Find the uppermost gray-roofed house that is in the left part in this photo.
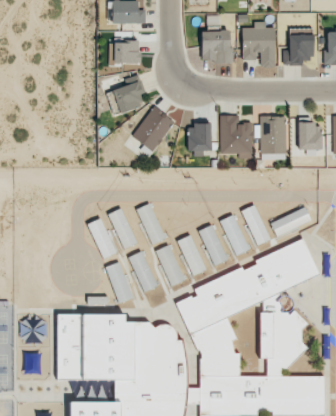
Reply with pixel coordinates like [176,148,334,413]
[114,0,146,24]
